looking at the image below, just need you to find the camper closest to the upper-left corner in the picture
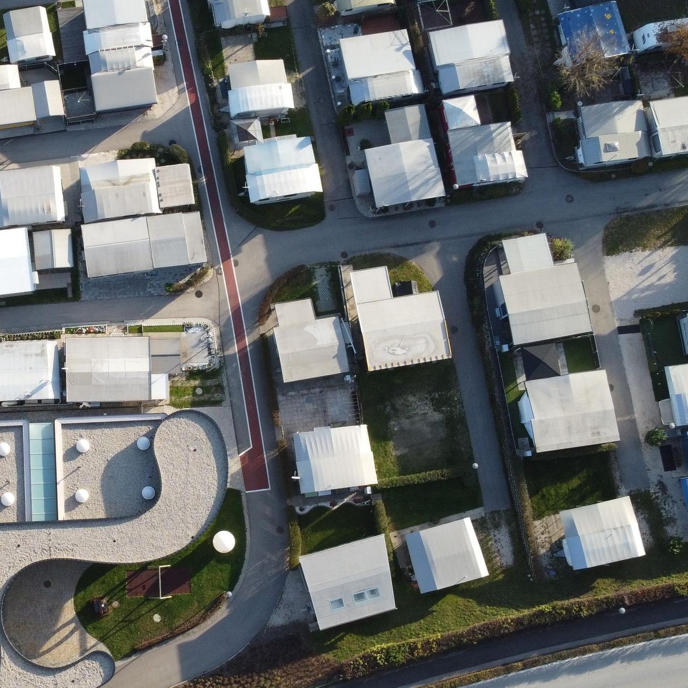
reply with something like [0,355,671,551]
[5,8,55,69]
